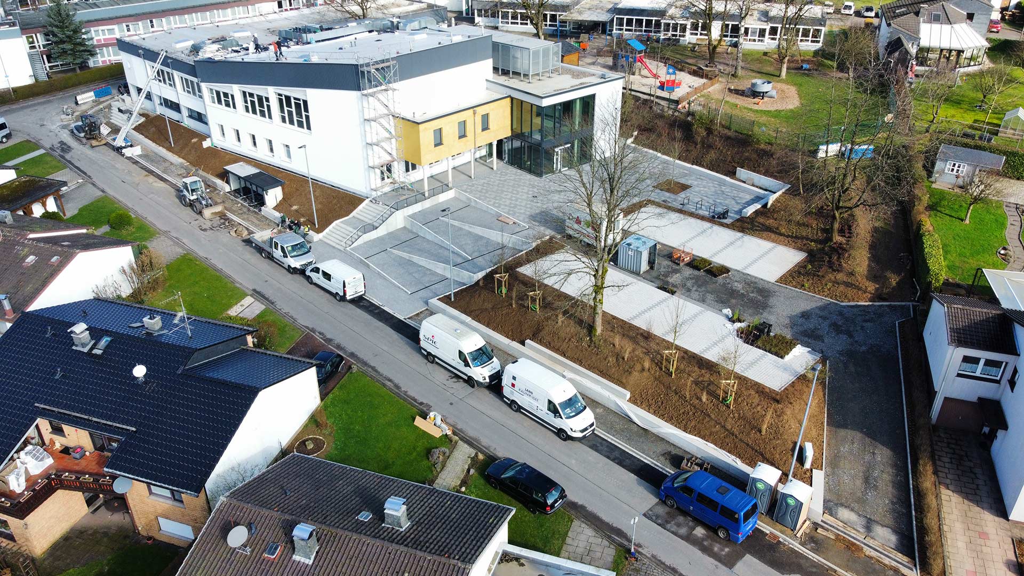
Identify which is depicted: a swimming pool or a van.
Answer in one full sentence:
Visible in the photo is a van.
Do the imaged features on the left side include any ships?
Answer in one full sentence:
No, I see no ship on the left side.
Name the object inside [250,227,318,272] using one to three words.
truck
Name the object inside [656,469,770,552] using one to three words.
van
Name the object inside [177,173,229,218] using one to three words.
work vehicle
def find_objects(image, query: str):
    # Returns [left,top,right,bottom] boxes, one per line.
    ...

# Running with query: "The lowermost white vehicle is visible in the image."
[500,354,601,445]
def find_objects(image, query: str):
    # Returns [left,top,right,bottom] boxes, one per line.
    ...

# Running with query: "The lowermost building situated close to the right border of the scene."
[916,274,1024,527]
